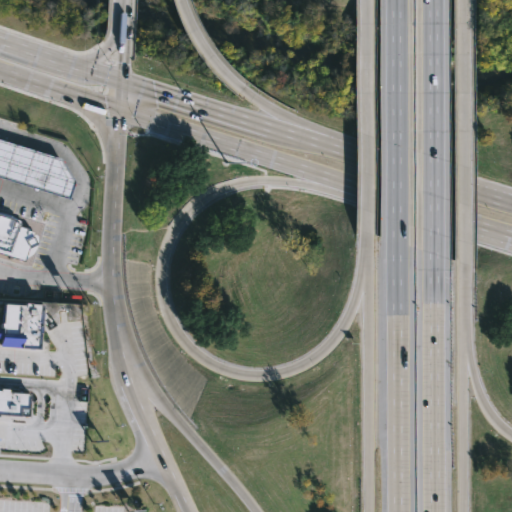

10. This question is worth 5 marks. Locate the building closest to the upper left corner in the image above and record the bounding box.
[0,139,75,198]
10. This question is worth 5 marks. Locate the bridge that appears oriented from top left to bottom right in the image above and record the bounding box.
[175,0,330,128]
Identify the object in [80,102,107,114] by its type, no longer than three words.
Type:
vehicle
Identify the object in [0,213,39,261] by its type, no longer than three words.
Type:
building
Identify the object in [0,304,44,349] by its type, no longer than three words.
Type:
building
